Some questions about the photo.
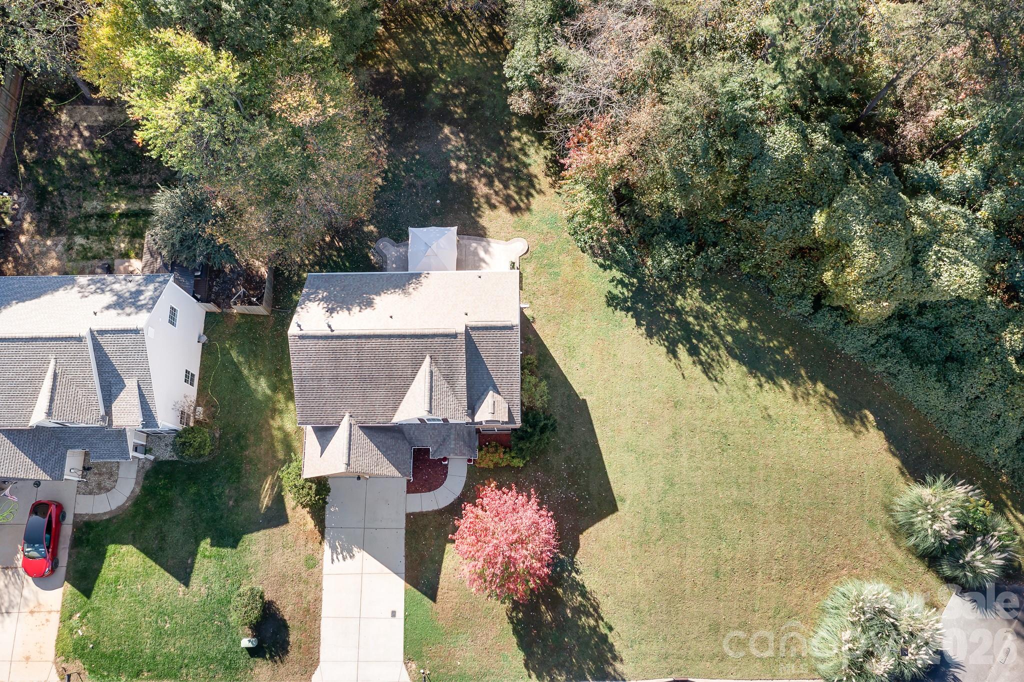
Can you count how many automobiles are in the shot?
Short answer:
one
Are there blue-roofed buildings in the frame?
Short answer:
No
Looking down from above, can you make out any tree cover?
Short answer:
Yes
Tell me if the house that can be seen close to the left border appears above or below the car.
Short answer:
above it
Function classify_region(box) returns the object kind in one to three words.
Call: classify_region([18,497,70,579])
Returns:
car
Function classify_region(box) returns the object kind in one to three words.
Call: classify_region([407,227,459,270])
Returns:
tent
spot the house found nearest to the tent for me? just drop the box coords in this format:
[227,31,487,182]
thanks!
[288,270,522,482]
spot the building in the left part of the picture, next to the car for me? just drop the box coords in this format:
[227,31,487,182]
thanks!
[0,273,205,482]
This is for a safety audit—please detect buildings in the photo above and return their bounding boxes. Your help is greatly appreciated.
[288,270,522,482]
[0,273,205,482]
